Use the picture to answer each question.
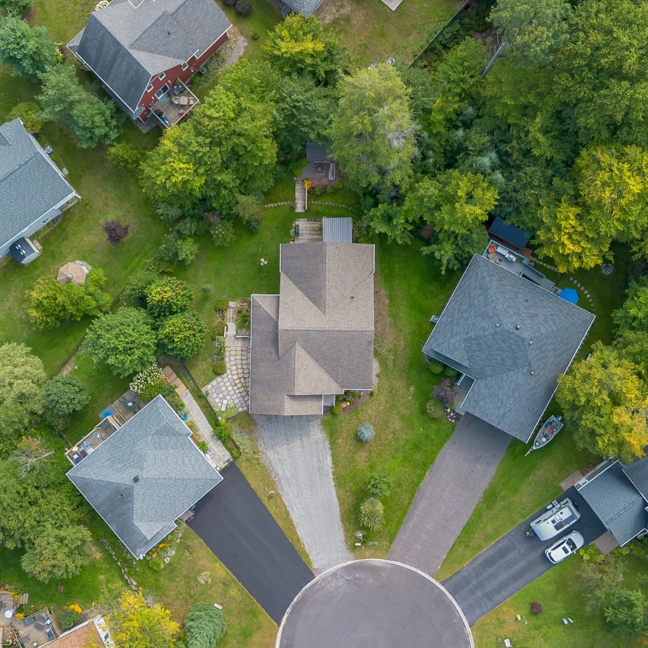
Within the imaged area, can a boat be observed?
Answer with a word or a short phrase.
Yes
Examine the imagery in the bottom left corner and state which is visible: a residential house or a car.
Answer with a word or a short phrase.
residential house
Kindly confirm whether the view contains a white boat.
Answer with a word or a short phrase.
No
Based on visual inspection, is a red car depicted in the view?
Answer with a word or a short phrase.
No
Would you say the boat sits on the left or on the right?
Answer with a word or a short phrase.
right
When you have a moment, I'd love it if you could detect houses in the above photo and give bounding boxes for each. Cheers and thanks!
[0,117,81,258]
[421,252,596,444]
[574,430,648,547]
[249,242,375,416]
[66,0,233,124]
[32,611,122,648]
[283,0,325,20]
[65,393,224,561]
